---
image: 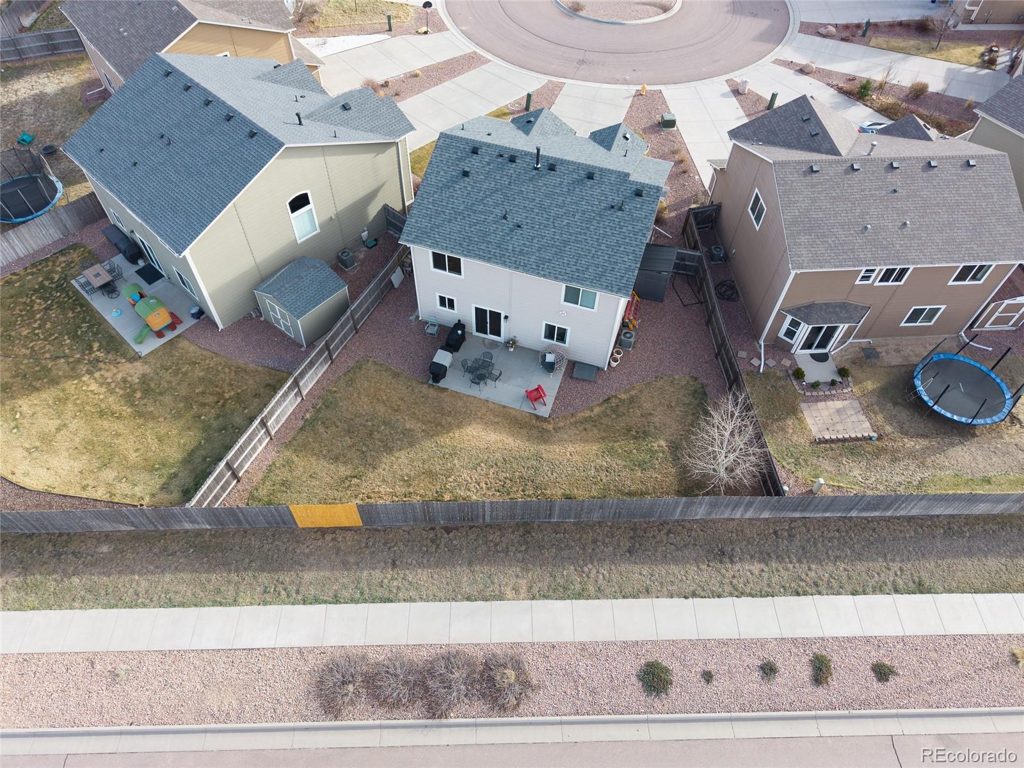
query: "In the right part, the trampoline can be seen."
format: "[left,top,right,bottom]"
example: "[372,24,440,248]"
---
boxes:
[904,333,1024,436]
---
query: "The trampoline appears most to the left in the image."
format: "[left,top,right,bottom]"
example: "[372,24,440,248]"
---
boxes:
[0,149,67,229]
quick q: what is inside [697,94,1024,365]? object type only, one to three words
house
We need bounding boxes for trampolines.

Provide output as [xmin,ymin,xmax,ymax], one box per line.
[904,333,1024,436]
[0,149,67,229]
